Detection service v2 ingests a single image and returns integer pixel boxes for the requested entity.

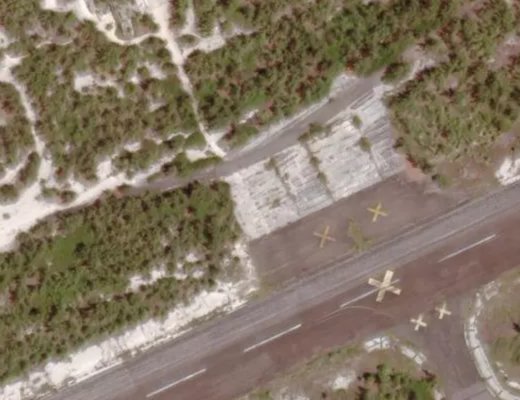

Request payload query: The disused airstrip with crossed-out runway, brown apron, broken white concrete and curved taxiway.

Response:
[36,89,520,400]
